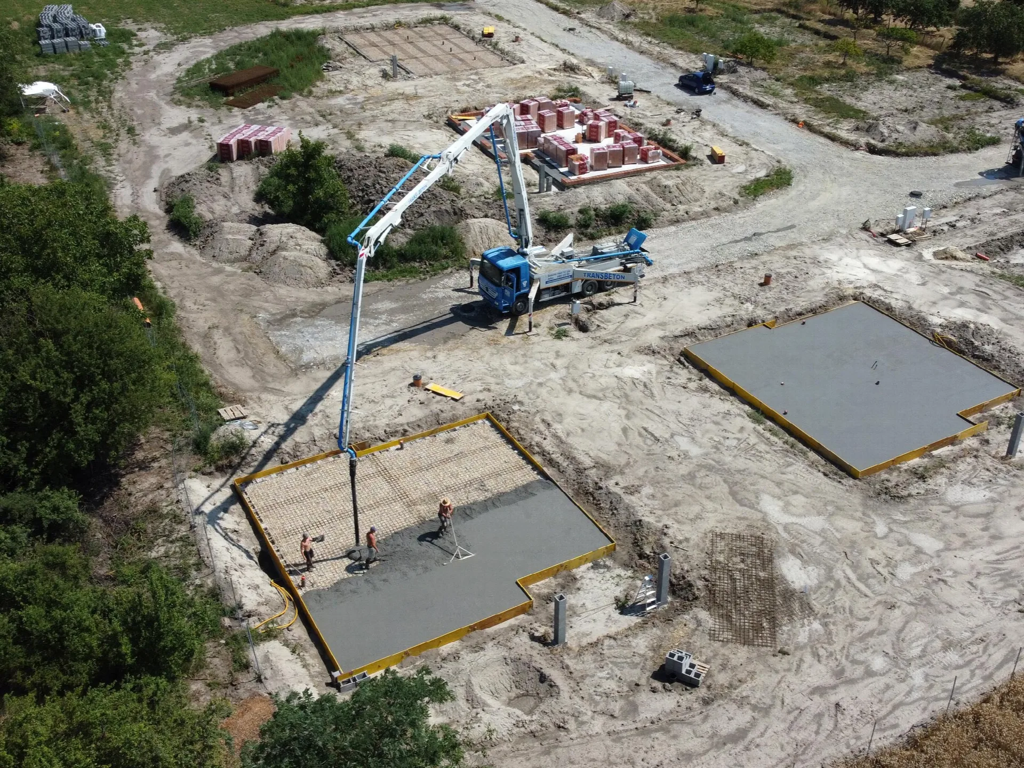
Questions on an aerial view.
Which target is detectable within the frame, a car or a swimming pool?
car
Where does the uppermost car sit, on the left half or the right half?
right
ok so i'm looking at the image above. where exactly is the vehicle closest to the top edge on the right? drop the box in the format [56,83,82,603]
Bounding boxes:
[678,68,721,93]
